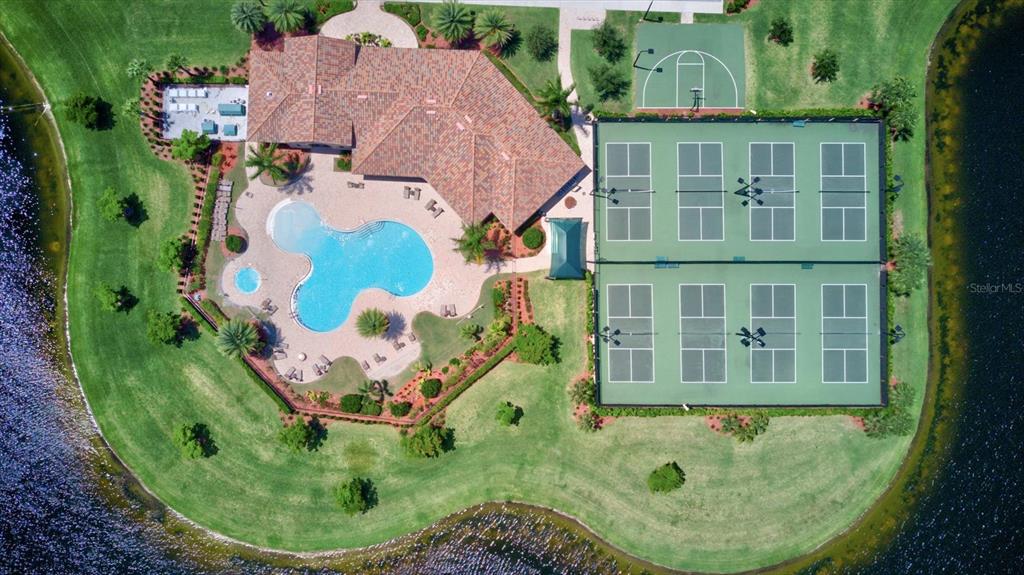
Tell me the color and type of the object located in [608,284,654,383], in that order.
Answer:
gray sports court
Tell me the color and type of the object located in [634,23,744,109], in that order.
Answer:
green basketball court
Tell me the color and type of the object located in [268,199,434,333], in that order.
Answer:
blue swimming pool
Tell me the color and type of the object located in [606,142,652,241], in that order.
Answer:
gray sports court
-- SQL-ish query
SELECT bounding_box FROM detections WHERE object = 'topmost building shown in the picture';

[246,33,585,232]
